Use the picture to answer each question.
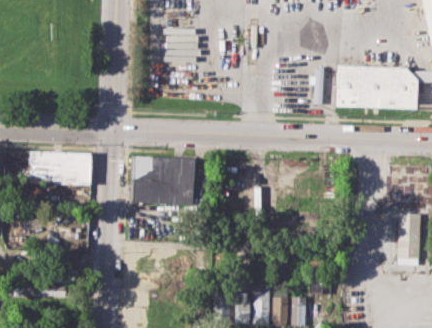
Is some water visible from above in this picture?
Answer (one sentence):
No, there is no water in the image.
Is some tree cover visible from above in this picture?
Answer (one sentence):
Yes, tree cover shows up in the scene.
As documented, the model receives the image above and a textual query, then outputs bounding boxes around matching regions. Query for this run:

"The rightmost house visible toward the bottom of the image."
[397,212,420,258]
